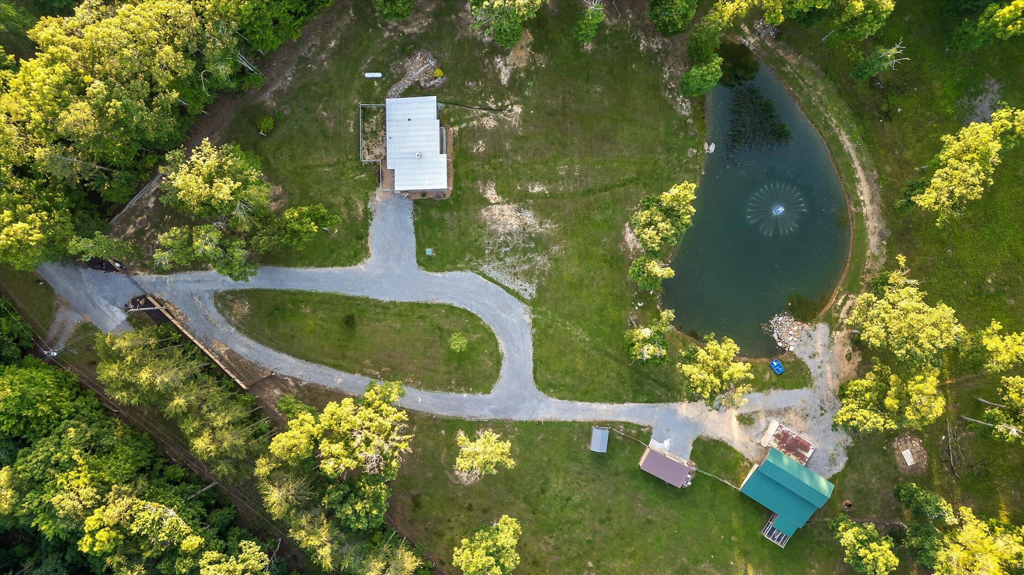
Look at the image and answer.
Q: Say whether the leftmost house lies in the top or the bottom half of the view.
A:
top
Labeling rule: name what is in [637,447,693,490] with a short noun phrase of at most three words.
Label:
building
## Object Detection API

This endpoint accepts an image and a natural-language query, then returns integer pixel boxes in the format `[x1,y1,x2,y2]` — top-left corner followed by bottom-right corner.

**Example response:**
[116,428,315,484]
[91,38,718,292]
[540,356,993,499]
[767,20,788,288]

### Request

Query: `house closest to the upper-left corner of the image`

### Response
[386,96,452,194]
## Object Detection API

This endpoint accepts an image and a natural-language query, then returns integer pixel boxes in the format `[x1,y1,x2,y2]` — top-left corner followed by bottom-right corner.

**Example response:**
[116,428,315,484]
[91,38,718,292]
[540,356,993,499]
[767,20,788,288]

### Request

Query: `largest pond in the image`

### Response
[662,42,851,359]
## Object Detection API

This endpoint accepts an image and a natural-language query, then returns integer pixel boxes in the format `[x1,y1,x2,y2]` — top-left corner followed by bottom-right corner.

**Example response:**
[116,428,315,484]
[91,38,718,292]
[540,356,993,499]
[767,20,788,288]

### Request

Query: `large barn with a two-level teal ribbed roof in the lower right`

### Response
[739,447,834,537]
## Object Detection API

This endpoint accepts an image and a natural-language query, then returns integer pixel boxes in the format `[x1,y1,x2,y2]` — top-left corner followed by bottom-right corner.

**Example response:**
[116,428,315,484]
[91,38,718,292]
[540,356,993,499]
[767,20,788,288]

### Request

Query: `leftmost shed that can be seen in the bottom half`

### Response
[590,426,609,453]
